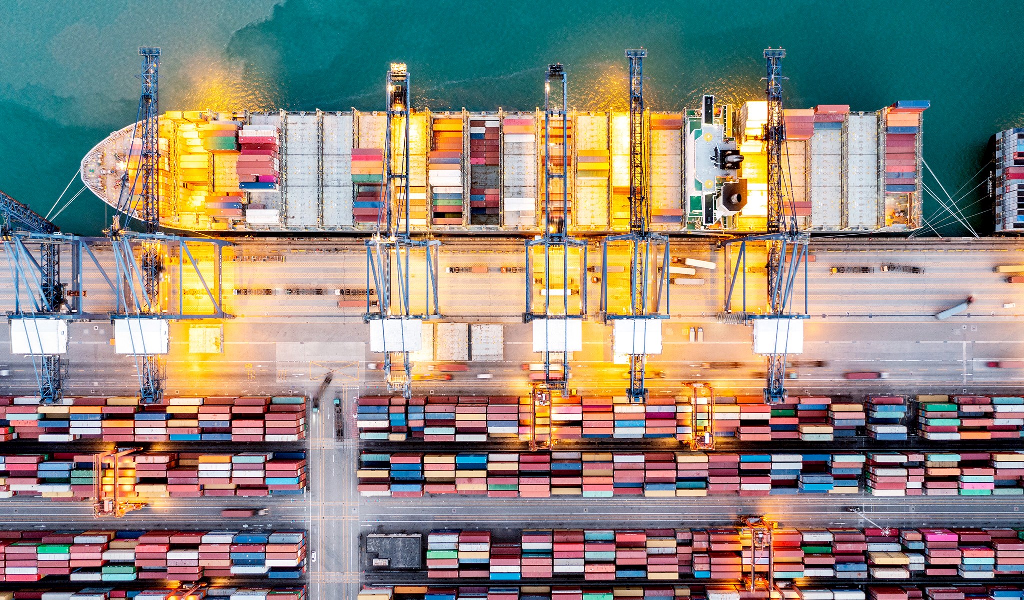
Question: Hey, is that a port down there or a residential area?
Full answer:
The picture captures a port.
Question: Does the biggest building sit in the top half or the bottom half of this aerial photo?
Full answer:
Seen from above, the biggest building lies in the bottom half of the view.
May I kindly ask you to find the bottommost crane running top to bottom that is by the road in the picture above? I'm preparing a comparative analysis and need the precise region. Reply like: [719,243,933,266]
[732,509,774,593]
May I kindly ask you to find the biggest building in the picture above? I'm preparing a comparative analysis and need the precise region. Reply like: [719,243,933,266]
[366,534,423,569]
